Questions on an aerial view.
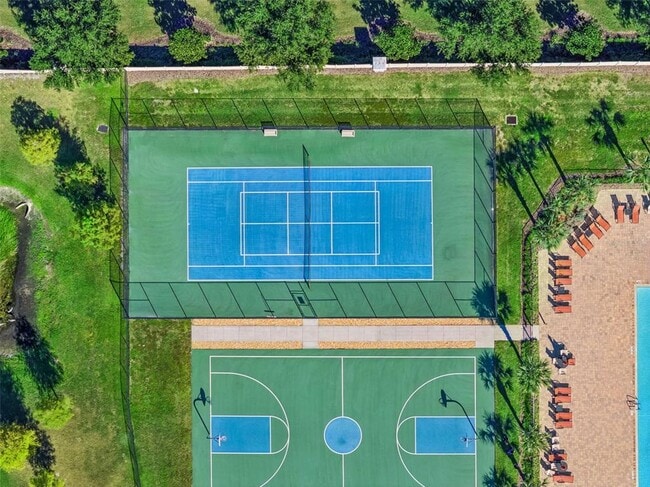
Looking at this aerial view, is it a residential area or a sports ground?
sports ground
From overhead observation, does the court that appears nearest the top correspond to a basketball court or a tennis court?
tennis court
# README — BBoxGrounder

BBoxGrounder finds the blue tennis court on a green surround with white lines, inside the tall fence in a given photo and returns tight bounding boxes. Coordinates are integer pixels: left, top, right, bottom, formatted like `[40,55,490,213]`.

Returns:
[128,130,493,317]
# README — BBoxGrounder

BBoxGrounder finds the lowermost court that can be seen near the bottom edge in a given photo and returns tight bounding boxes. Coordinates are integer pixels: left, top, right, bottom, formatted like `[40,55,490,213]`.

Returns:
[192,349,494,487]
